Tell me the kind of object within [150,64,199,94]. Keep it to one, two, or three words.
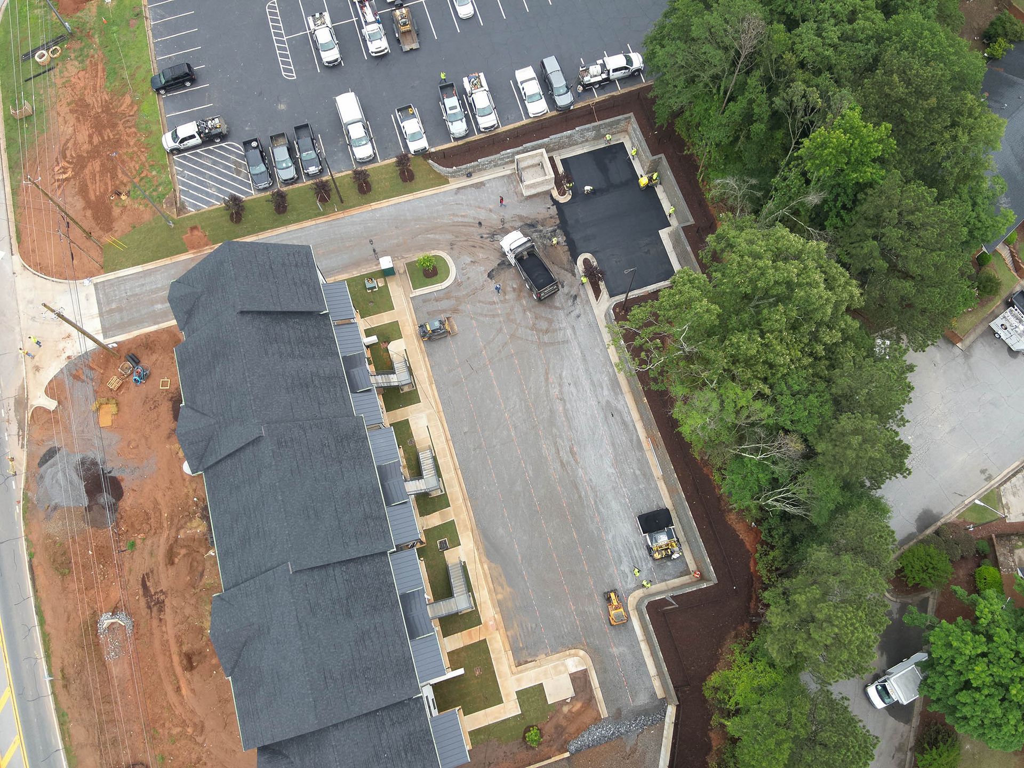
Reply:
car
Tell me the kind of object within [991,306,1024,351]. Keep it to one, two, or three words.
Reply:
trailer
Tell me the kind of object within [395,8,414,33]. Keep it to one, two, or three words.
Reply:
work vehicle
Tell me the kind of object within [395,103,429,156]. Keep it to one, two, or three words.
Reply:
truck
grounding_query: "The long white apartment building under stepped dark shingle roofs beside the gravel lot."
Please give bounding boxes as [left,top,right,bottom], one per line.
[160,236,481,768]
